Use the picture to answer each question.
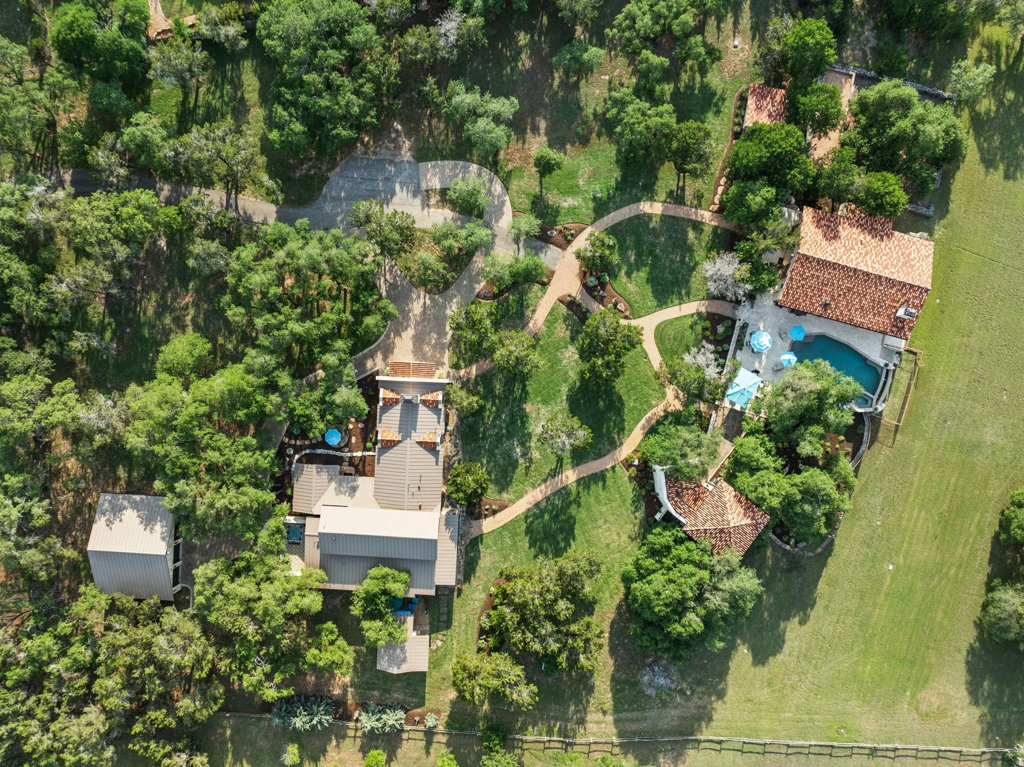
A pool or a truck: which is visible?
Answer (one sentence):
The image shows a pool.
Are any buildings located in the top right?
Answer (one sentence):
Yes, a building shows up in the top right.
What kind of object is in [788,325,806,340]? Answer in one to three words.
umbrella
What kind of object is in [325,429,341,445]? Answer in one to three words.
umbrella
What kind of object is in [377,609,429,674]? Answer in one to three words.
shed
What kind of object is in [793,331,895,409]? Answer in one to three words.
swimming pool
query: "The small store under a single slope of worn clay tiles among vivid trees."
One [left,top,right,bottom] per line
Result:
[737,83,789,135]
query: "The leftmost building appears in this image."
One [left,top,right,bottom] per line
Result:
[86,493,194,601]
